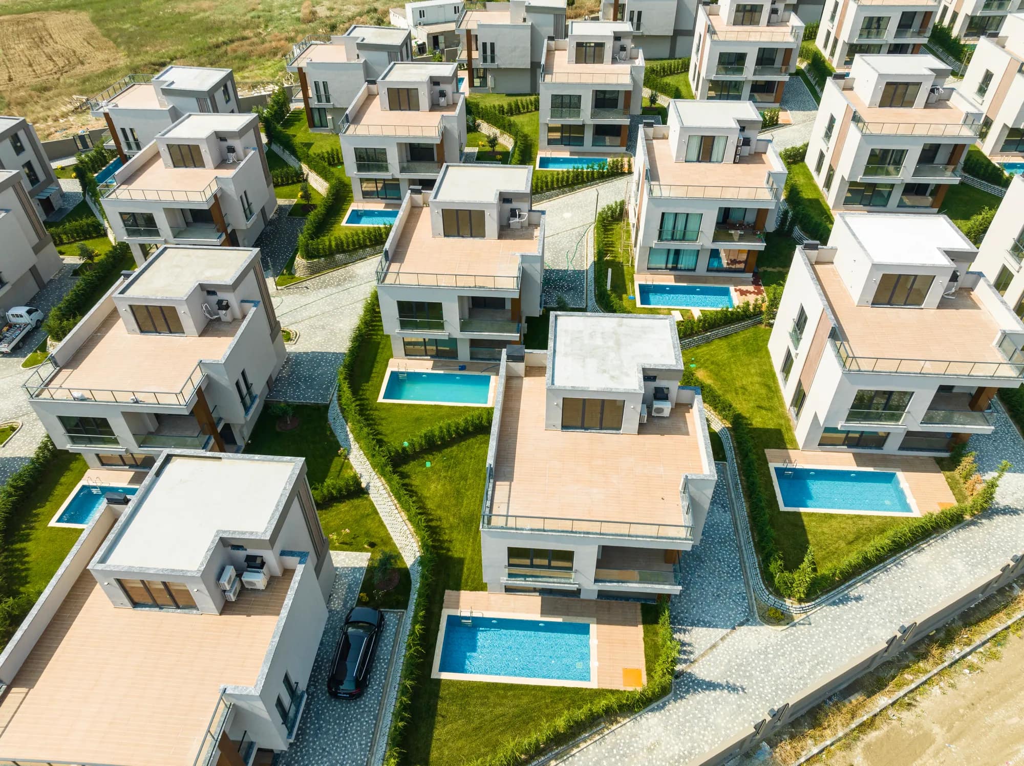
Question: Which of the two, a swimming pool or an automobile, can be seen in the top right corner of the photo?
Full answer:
What appears in the top right corner of the photo is a swimming pool.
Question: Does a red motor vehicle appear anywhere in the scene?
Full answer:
No, the frame has no red motor vehicle in it.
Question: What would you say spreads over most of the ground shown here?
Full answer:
Most of the picture is covered by buildings.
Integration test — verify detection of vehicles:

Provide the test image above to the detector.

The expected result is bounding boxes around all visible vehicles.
[0,312,46,360]
[328,610,383,700]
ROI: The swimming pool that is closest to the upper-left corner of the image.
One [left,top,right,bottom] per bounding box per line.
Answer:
[92,155,121,187]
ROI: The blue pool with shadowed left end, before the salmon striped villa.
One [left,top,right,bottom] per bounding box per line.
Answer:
[762,448,966,517]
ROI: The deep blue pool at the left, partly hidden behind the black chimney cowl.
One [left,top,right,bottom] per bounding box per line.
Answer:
[49,468,149,528]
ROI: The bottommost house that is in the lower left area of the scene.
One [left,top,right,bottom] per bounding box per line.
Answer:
[0,449,337,766]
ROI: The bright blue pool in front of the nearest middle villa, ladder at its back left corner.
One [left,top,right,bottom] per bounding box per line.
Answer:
[431,591,646,692]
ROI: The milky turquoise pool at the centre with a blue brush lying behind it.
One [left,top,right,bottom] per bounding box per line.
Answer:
[377,358,501,407]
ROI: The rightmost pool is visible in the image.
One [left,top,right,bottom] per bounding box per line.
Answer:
[995,153,1024,175]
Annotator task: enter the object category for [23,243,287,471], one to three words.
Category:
house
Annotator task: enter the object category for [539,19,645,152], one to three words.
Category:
house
